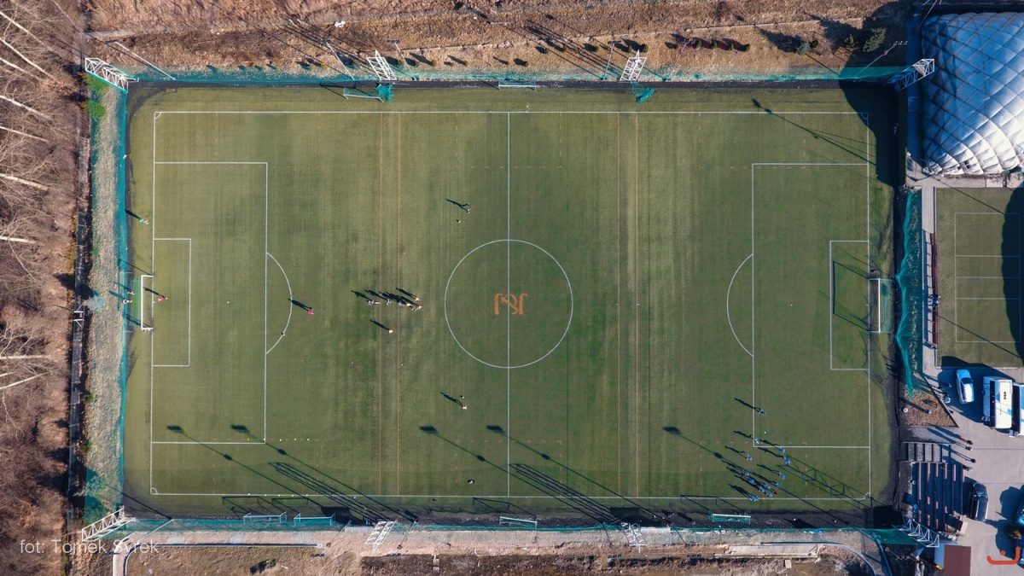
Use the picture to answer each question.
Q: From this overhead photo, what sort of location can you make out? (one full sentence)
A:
This looks like a sports ground.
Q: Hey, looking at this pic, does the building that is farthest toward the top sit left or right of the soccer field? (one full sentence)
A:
Relative to the soccer field, the building that is farthest toward the top lies to the right.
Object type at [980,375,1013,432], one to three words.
vehicle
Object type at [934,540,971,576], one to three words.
shed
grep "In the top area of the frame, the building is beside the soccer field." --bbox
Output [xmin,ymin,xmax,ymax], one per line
[921,11,1024,177]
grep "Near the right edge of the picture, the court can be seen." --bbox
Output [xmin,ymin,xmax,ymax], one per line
[937,187,1024,368]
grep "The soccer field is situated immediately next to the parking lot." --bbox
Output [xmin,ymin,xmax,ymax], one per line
[125,89,895,513]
